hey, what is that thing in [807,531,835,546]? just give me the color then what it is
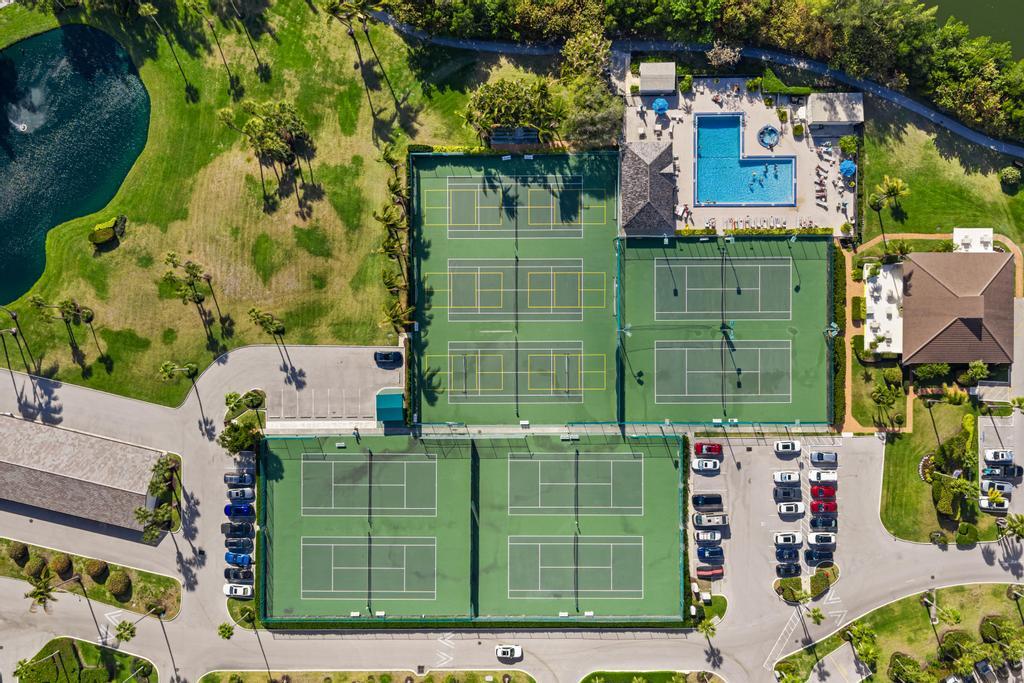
white car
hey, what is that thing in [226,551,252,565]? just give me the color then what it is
blue car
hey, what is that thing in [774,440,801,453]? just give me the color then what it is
white vehicle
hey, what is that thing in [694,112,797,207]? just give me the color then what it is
blue swimming pool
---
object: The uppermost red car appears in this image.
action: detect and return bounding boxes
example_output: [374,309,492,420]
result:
[694,443,722,457]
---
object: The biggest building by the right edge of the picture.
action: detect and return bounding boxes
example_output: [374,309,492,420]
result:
[897,252,1014,384]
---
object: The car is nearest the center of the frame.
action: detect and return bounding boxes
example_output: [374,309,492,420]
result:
[375,351,402,365]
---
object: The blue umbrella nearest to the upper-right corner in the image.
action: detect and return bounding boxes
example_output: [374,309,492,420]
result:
[838,160,855,177]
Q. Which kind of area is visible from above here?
sports ground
